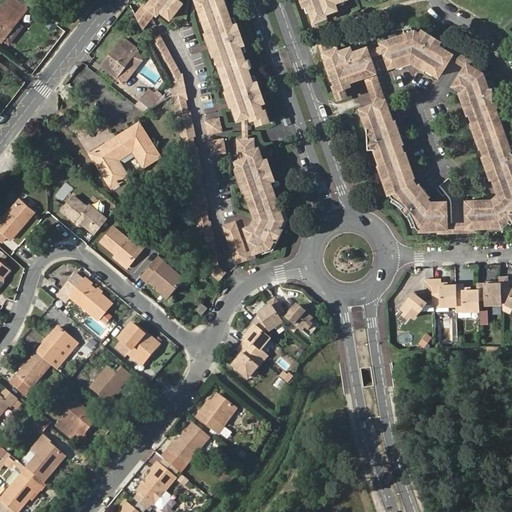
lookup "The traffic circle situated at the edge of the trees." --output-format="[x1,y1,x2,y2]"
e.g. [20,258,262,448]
[301,209,397,305]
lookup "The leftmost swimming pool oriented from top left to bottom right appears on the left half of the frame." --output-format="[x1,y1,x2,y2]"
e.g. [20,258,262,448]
[84,316,105,337]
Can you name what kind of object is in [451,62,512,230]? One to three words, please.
building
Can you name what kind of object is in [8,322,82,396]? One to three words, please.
house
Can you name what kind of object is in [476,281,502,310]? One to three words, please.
house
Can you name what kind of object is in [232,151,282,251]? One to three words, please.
building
